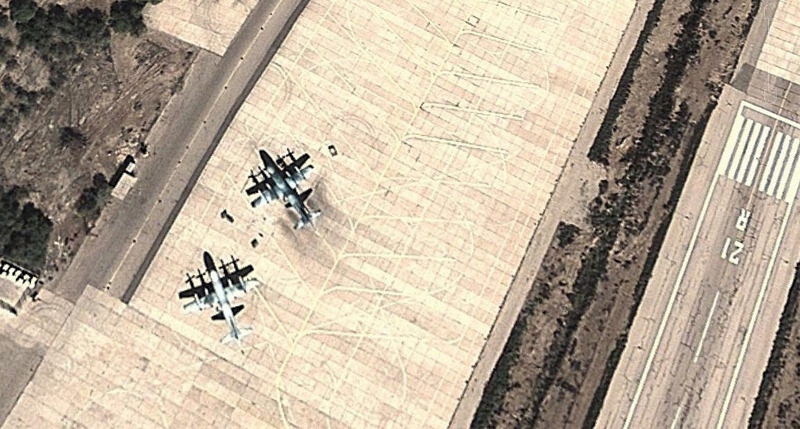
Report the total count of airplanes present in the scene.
2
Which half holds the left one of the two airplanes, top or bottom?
bottom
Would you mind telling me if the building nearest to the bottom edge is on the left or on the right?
left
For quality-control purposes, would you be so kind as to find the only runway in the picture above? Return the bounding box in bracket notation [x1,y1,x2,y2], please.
[594,70,800,429]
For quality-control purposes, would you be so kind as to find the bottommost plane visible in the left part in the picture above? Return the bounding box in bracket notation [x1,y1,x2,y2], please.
[183,266,260,341]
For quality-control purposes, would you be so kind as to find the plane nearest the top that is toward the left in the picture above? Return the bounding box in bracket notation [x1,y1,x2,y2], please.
[250,161,318,228]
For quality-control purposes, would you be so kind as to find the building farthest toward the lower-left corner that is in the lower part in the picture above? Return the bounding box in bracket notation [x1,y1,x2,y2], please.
[0,262,36,306]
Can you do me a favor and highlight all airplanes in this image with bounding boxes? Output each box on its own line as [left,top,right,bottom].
[183,266,260,341]
[250,161,318,228]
